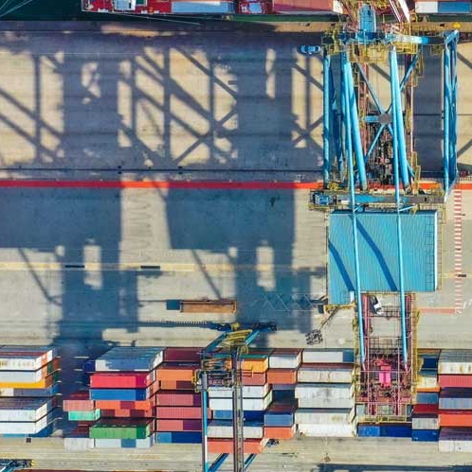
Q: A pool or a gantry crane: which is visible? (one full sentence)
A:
I can see a gantry crane in this picture.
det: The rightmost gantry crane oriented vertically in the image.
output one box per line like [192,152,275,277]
[309,0,472,423]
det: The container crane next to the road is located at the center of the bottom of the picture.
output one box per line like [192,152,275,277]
[193,320,276,472]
